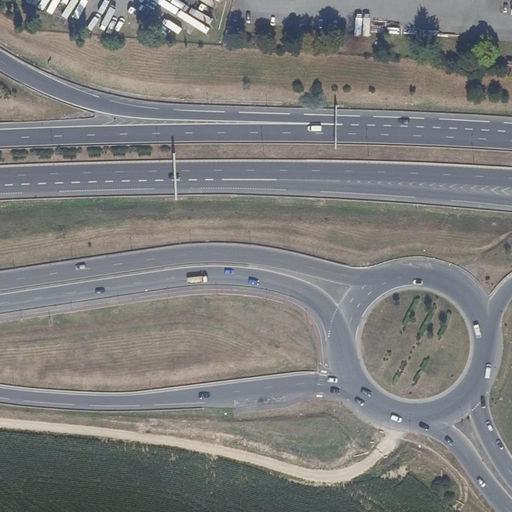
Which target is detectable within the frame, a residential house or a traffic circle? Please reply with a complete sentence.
Visible in the photo is a traffic circle.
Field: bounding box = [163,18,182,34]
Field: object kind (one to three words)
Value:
vehicle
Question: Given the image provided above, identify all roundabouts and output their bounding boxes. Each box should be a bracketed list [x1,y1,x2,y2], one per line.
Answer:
[326,256,504,434]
